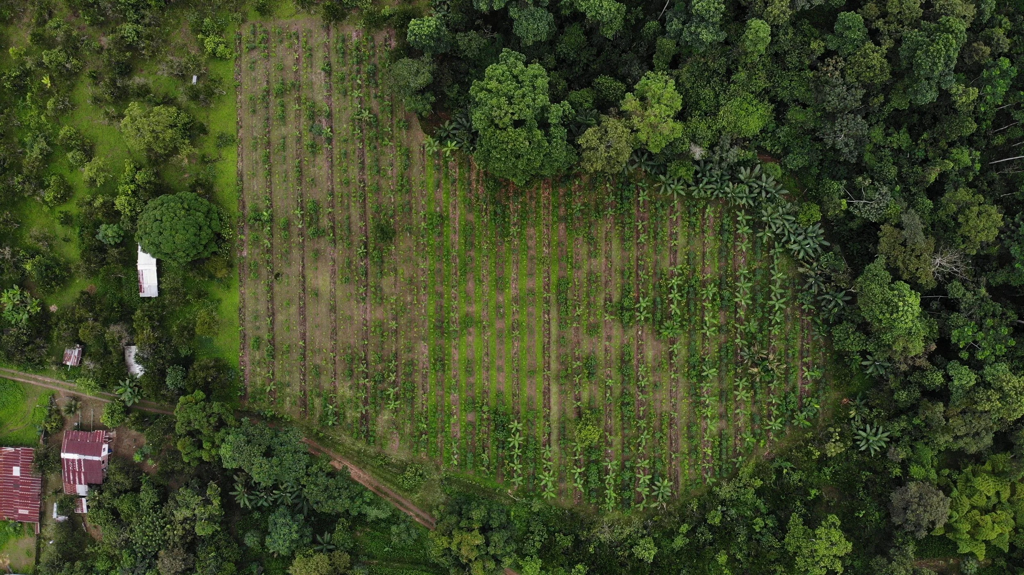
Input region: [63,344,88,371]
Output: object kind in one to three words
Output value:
shed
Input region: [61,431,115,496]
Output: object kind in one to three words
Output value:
house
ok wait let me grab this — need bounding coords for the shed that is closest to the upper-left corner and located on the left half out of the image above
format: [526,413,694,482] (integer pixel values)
[136,250,166,297]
